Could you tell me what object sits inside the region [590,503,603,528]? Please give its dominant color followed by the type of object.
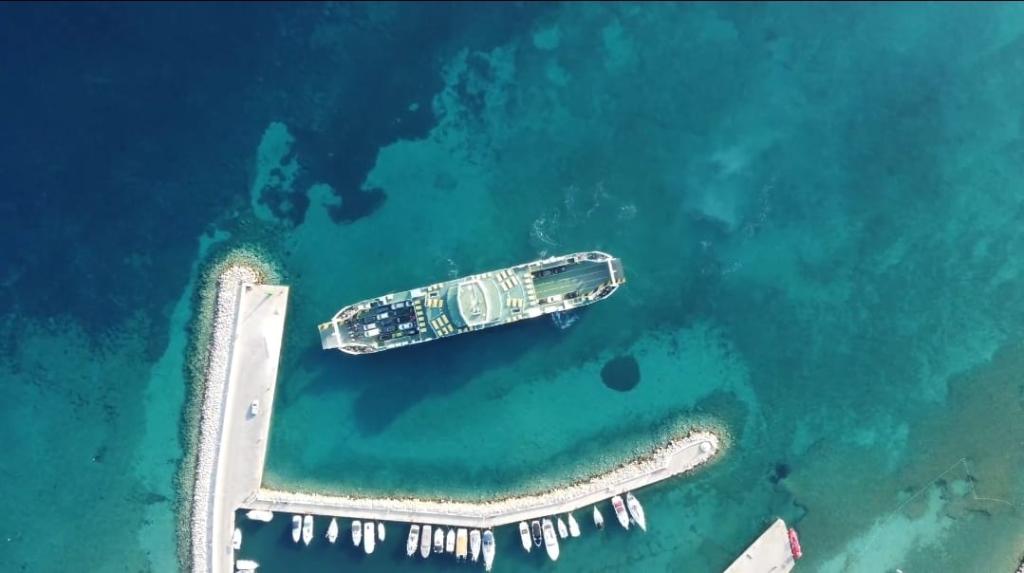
white boat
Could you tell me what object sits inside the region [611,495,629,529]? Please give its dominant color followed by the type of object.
white boat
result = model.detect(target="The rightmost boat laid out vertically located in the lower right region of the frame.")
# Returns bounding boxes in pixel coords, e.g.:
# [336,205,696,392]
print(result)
[789,528,803,560]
